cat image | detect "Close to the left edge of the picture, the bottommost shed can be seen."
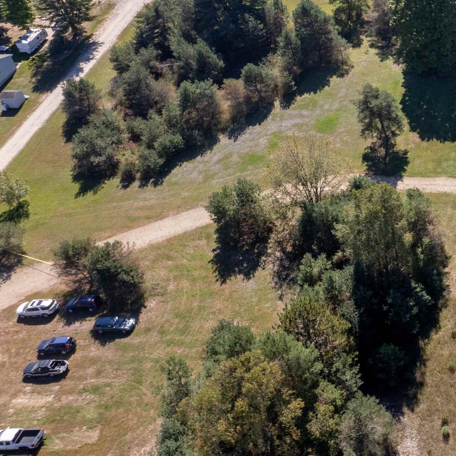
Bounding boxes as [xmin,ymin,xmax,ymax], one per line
[0,88,27,107]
